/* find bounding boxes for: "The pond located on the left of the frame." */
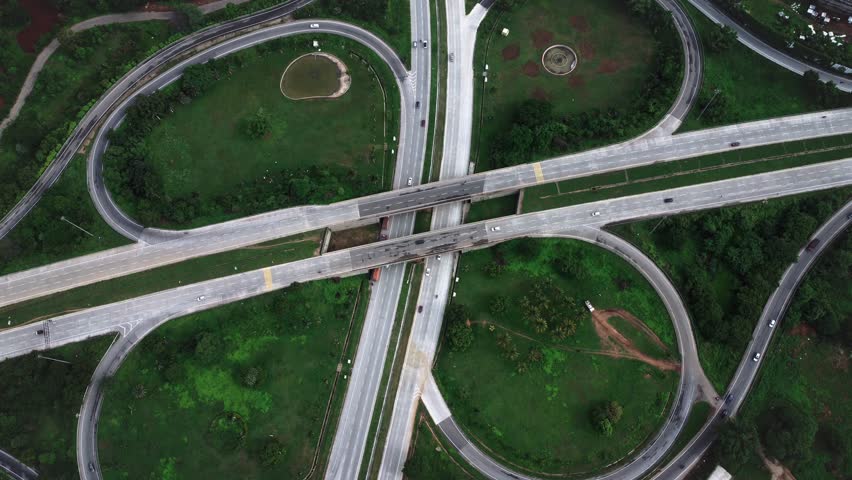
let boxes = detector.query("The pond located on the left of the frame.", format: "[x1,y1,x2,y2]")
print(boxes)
[280,52,349,99]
